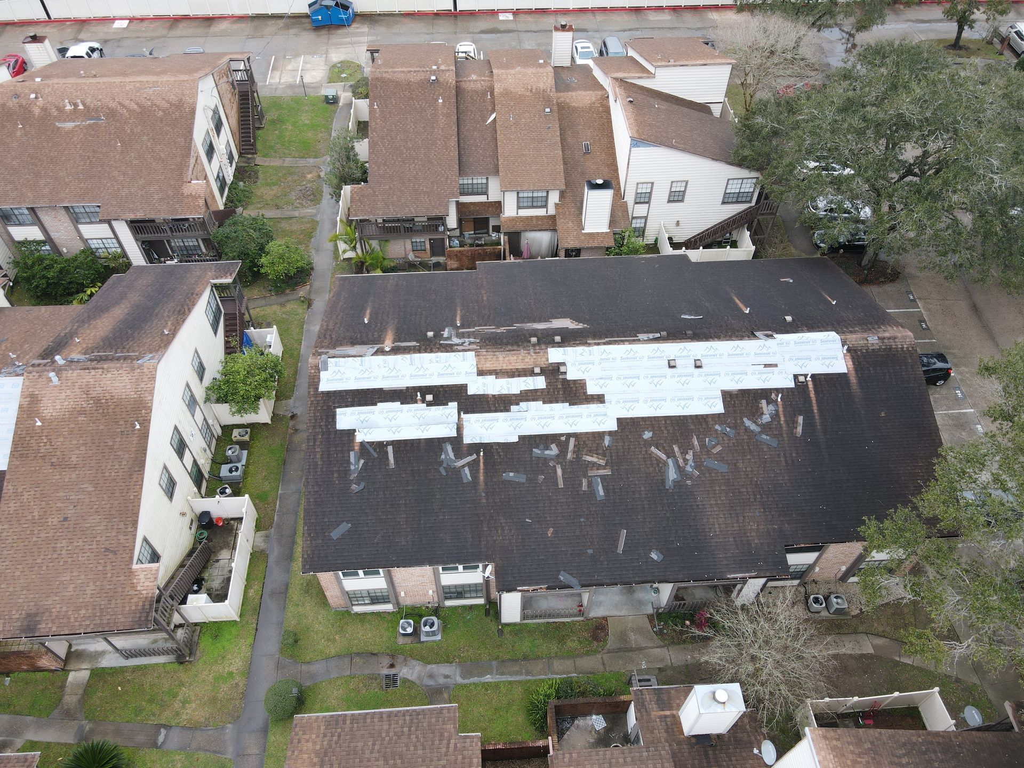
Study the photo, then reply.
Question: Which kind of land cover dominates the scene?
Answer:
buildings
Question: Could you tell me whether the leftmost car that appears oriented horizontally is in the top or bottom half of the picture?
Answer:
top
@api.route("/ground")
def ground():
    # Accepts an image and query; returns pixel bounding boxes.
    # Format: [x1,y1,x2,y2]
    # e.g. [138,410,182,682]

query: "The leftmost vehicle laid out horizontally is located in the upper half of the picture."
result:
[60,39,109,59]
